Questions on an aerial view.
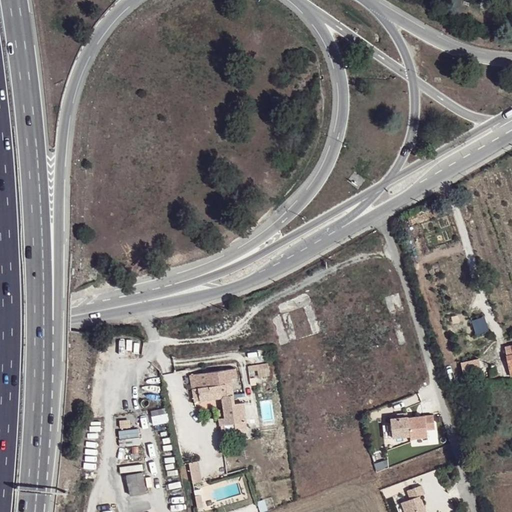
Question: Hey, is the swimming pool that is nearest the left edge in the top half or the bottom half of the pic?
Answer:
bottom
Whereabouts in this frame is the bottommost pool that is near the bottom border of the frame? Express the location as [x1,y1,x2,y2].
[211,482,242,502]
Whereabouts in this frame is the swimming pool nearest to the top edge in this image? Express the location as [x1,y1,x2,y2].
[258,399,274,424]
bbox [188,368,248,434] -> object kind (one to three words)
house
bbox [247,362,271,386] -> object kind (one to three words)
house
